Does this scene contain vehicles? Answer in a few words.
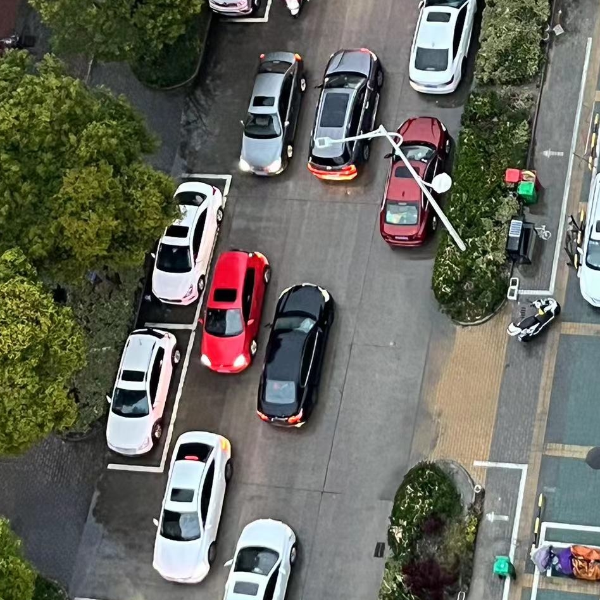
Yes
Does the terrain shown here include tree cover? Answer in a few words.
Yes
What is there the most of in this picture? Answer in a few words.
paved ground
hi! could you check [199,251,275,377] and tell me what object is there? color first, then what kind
red car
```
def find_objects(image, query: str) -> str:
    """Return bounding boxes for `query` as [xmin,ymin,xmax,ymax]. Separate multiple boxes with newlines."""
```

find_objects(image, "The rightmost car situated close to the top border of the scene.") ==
[411,0,483,95]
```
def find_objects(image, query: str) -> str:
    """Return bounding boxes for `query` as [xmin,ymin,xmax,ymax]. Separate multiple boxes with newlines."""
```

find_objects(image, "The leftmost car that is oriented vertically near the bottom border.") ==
[151,433,235,584]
